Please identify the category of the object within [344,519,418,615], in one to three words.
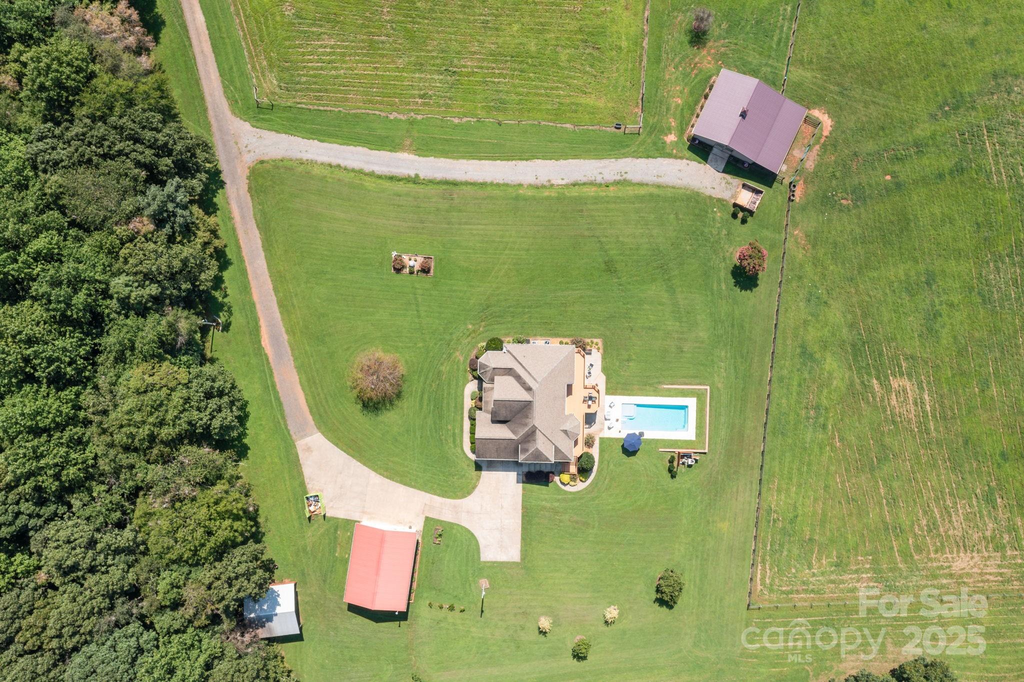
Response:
barn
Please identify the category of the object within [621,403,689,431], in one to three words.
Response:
swimming pool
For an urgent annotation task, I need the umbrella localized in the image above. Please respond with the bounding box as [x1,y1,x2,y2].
[624,431,645,451]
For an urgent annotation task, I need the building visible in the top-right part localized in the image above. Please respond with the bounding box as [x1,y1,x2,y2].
[691,69,808,175]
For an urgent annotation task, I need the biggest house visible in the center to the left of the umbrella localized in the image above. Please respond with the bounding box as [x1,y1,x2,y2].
[475,344,581,463]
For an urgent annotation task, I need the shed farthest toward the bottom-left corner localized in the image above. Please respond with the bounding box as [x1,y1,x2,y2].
[244,583,304,640]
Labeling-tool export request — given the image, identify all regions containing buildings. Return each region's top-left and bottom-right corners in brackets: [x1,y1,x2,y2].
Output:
[344,519,418,615]
[244,583,304,640]
[475,344,581,463]
[691,69,808,175]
